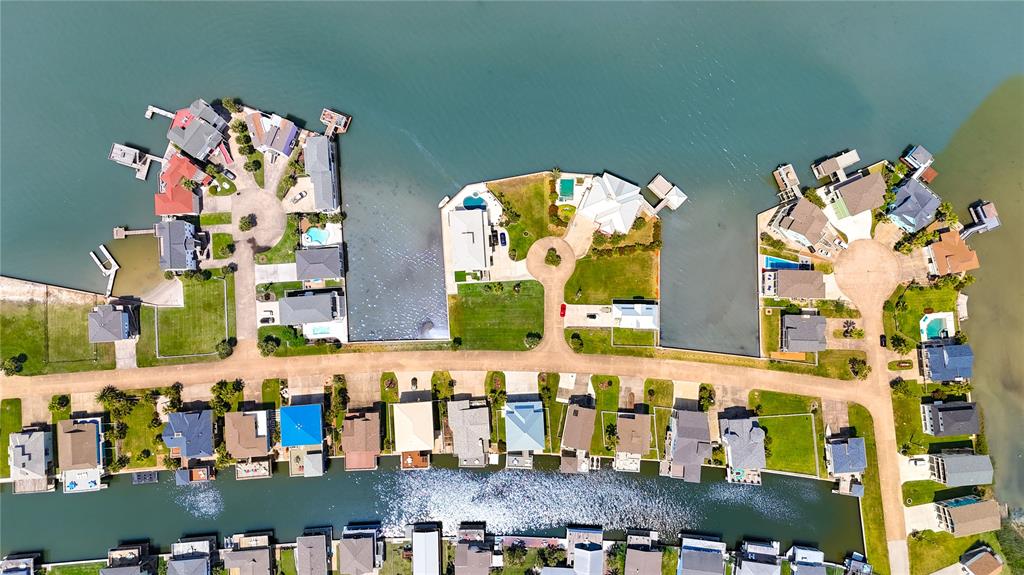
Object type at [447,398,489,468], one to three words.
house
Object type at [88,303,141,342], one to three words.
house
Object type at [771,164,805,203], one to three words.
building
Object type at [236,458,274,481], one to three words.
pier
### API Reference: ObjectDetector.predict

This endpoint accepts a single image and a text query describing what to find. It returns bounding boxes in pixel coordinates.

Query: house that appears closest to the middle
[449,204,494,279]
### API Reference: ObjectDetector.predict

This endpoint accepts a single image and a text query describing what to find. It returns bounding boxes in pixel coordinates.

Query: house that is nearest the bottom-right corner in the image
[955,539,1003,575]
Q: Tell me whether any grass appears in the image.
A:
Yes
